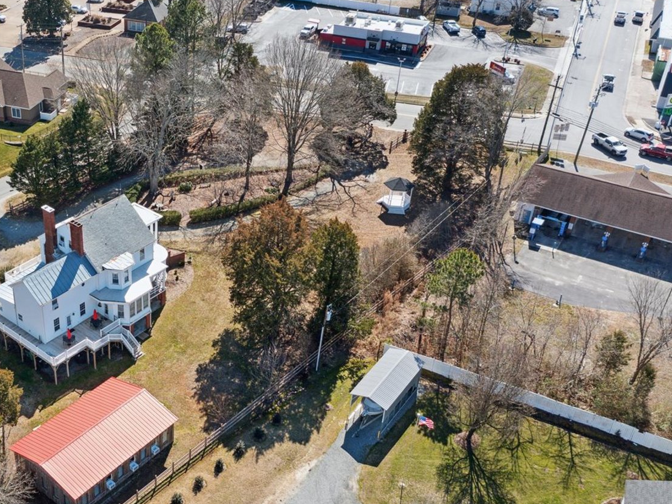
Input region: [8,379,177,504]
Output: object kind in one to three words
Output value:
house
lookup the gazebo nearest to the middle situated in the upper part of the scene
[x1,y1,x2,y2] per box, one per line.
[377,172,418,210]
